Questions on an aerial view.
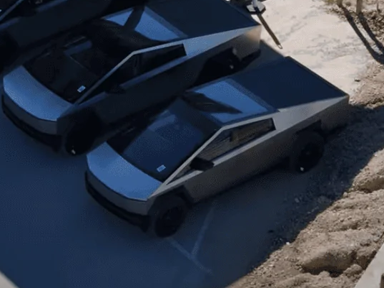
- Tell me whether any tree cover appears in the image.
No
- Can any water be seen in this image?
No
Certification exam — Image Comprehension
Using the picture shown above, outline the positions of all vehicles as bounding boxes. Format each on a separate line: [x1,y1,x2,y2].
[80,55,350,236]
[0,0,261,157]
[0,0,160,78]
